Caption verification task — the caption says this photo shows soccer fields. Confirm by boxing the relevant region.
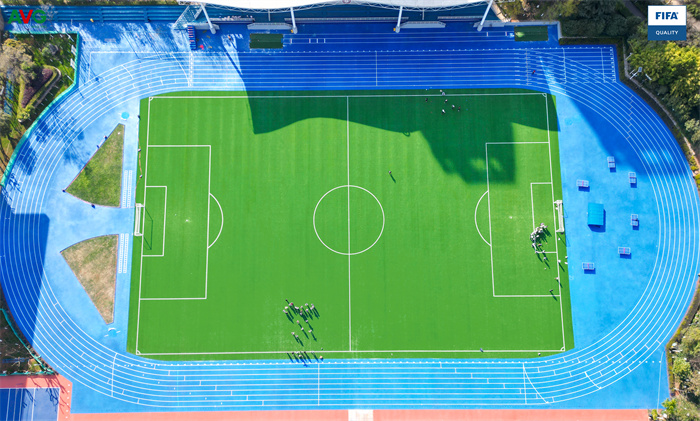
[124,89,577,360]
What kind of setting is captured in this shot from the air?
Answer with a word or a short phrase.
sports ground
